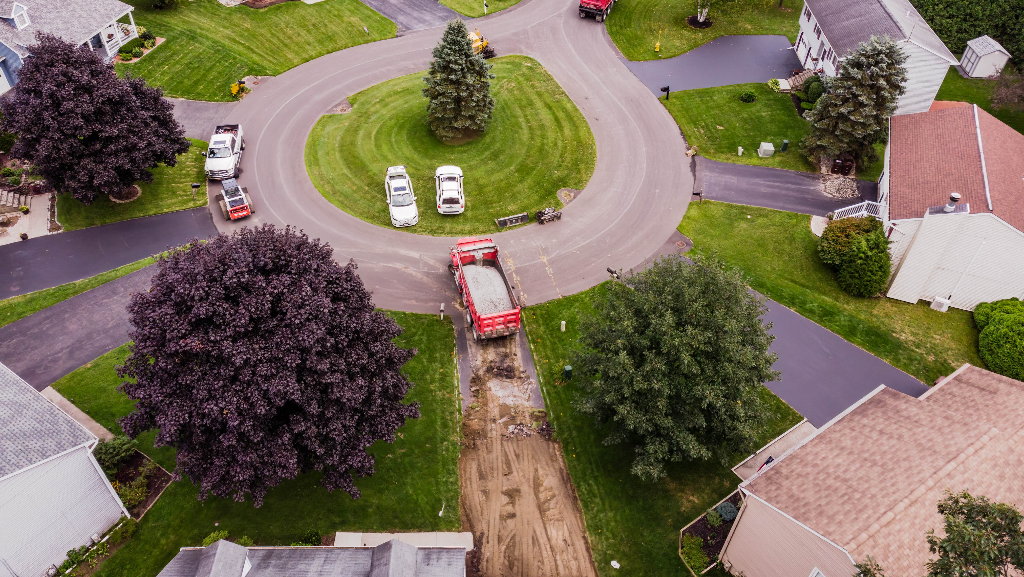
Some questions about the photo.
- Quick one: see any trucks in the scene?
Yes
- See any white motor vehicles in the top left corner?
Yes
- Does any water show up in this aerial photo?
No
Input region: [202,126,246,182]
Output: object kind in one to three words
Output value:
truck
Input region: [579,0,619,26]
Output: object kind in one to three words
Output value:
truck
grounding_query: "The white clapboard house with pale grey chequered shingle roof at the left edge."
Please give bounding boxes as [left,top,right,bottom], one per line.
[0,358,127,577]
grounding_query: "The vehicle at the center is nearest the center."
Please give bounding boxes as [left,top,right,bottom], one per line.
[448,230,524,352]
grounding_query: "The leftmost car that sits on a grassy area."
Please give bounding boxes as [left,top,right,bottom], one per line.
[385,166,419,228]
